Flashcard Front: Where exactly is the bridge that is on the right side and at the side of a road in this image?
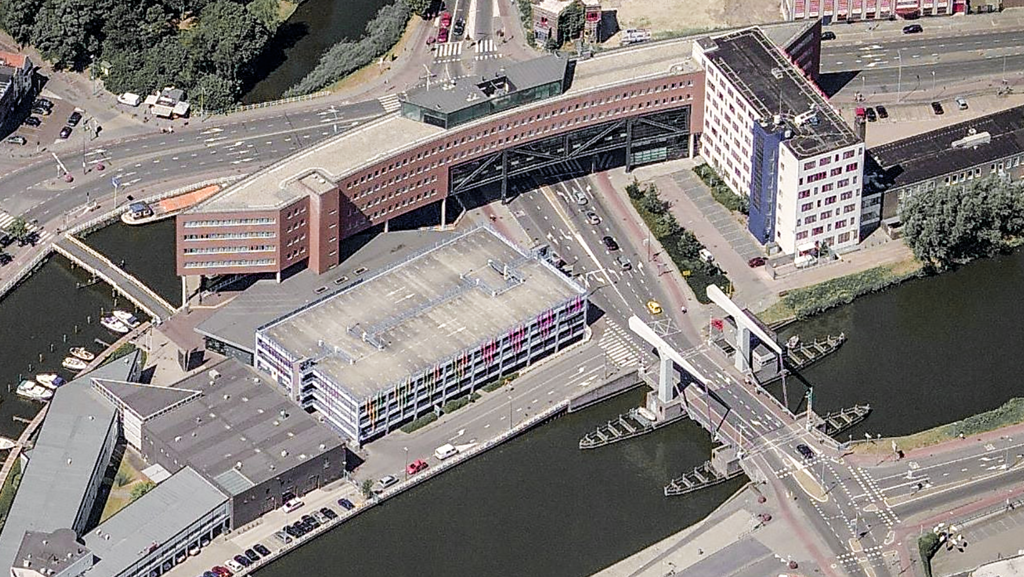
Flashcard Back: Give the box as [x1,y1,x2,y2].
[628,285,851,479]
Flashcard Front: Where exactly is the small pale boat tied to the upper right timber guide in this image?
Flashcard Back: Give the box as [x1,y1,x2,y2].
[785,335,801,351]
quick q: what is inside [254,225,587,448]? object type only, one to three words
building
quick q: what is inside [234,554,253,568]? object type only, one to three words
car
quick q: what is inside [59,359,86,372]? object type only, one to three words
boat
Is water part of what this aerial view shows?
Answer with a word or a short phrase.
Yes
